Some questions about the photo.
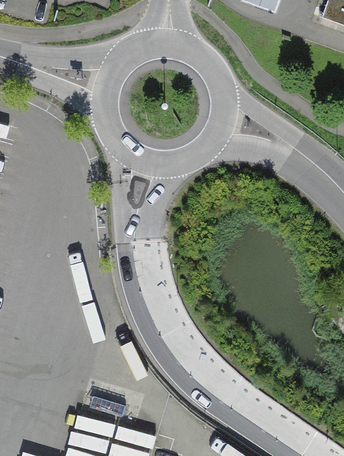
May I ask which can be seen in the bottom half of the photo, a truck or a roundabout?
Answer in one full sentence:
Looking in the bottom half of the photo, you will find a truck.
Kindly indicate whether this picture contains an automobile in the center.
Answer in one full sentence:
Yes, in the center there is an automobile.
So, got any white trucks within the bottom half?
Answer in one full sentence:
Yes, a white truck shows up within the bottom half.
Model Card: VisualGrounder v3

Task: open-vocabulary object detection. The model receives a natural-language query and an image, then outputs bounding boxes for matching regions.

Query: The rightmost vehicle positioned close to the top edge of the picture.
[34,0,48,22]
